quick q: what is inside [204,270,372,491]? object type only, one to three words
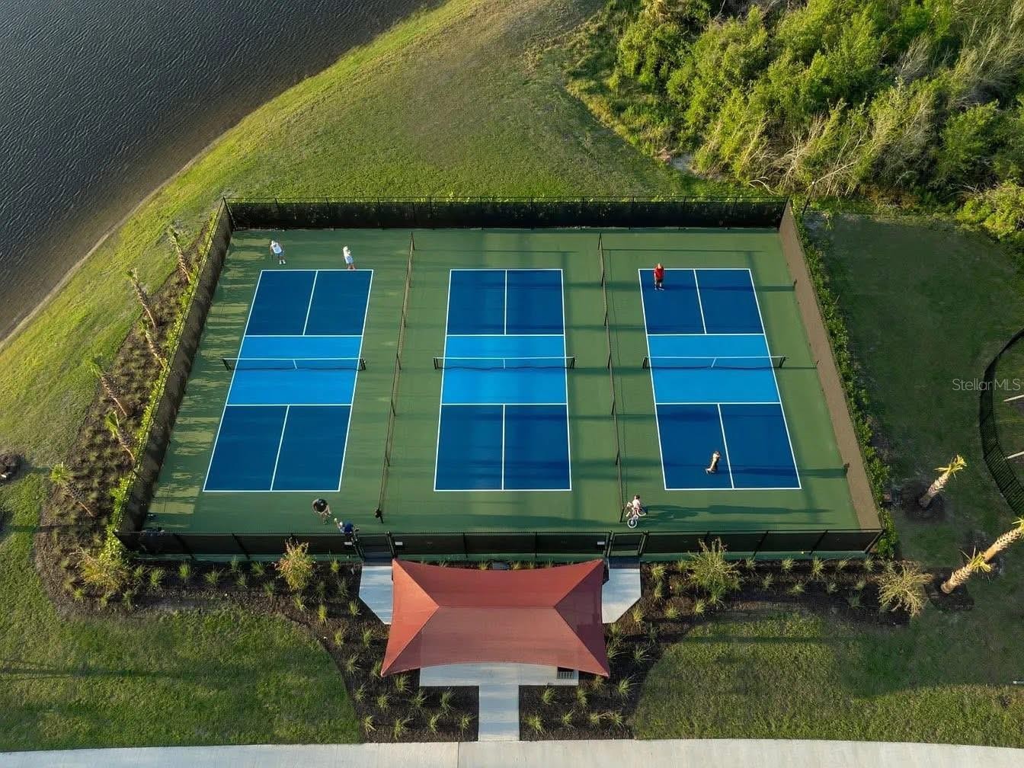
sports court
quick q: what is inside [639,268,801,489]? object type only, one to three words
sports court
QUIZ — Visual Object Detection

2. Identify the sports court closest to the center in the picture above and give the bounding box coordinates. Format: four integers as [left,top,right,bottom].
[435,269,571,490]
